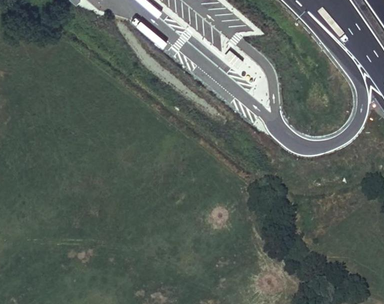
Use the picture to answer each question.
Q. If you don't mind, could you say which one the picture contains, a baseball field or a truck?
truck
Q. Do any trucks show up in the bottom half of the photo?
No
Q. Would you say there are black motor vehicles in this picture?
No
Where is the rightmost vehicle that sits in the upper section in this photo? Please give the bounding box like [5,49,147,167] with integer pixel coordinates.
[318,6,350,42]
